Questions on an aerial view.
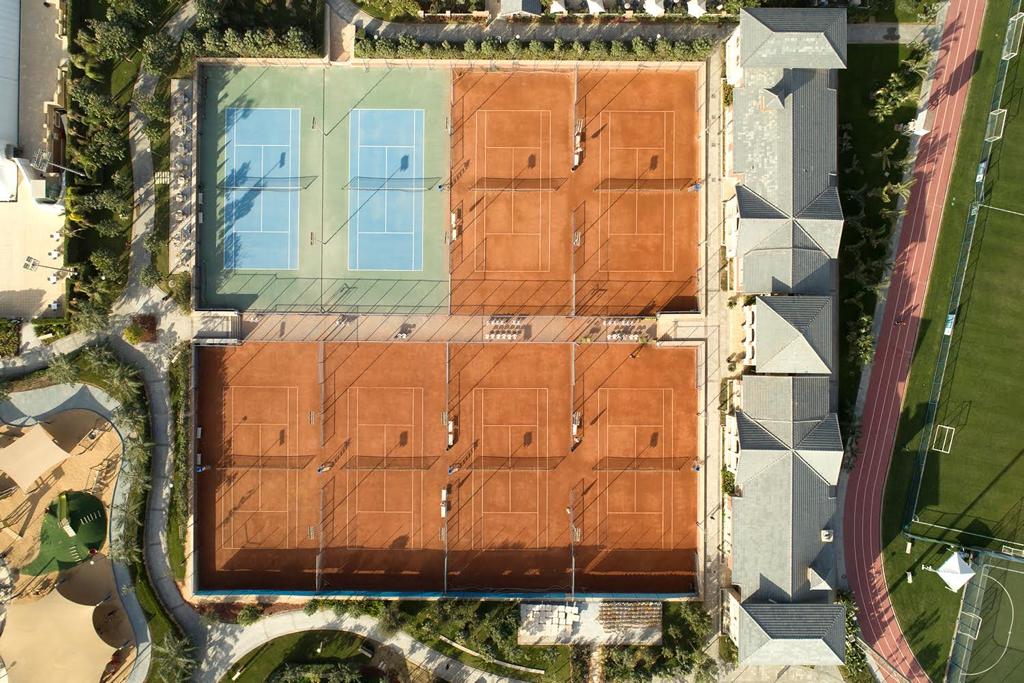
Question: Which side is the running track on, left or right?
right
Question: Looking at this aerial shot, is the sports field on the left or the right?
right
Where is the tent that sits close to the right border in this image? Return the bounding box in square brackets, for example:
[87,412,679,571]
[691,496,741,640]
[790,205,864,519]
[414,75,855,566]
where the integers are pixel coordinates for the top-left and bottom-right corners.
[926,550,978,598]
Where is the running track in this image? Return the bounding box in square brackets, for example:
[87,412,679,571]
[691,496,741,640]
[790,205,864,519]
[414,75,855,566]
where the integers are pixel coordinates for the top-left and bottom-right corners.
[842,0,989,683]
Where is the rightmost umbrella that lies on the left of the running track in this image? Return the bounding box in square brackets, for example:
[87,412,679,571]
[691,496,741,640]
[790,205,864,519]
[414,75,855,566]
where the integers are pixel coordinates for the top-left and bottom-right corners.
[683,0,710,21]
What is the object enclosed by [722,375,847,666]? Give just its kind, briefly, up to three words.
building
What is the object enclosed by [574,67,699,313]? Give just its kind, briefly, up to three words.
tennis court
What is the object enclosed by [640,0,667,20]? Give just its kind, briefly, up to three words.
umbrella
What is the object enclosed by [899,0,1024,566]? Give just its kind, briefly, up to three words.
sports field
